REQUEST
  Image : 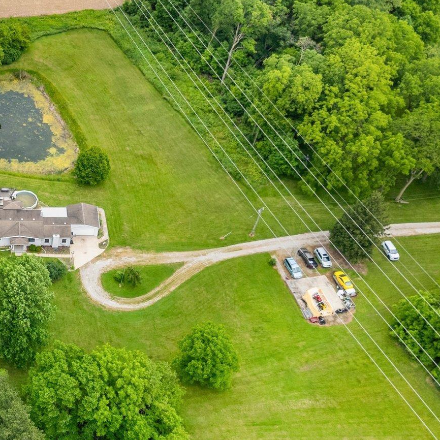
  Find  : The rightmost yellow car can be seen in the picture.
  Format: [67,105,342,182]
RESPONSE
[338,272,356,290]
